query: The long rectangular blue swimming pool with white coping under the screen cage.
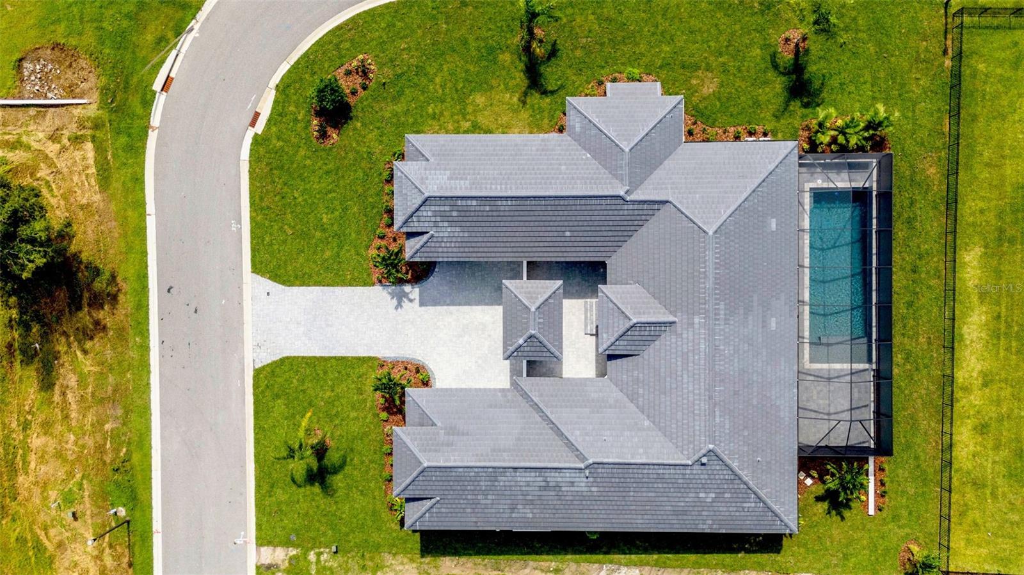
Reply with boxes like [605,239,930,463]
[804,160,876,370]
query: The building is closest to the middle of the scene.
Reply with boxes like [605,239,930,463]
[500,278,564,362]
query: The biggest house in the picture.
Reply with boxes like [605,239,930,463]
[391,81,800,535]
